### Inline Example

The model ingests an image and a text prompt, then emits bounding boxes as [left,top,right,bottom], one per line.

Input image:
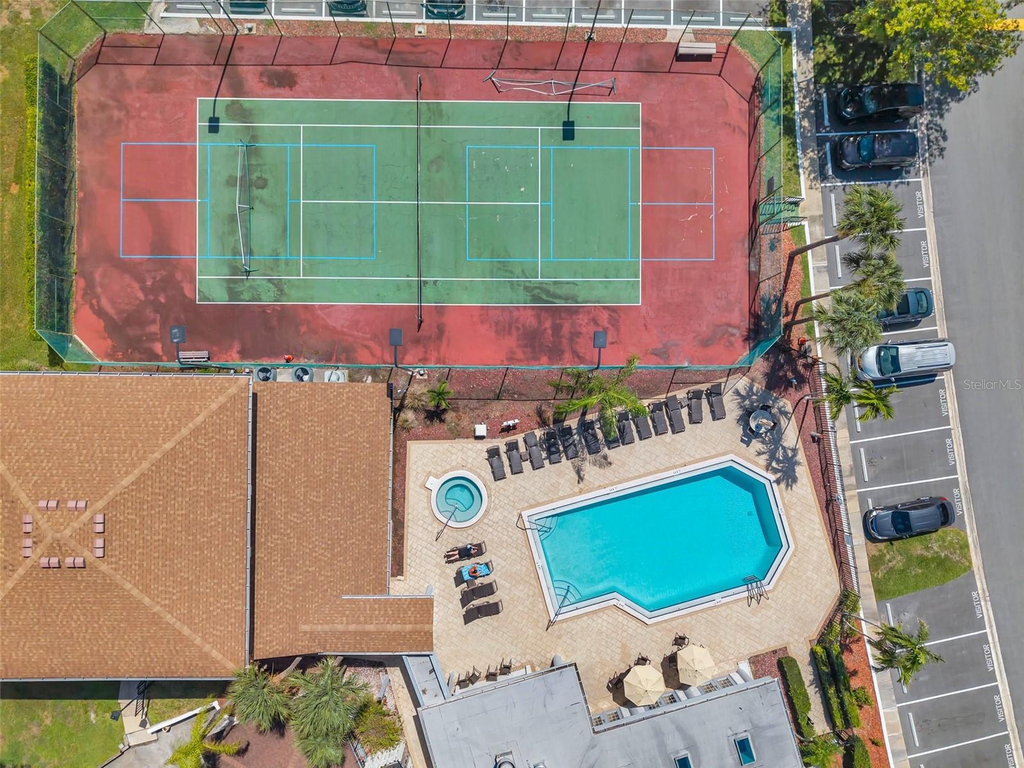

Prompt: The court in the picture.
[75,33,760,366]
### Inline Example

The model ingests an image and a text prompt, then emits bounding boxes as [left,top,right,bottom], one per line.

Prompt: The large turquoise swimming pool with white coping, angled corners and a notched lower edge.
[517,455,794,628]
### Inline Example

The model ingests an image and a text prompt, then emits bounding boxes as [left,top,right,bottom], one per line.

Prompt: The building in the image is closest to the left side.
[0,371,254,681]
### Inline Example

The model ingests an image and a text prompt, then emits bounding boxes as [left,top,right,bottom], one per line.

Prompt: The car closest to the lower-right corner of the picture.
[858,497,954,547]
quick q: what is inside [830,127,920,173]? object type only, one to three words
car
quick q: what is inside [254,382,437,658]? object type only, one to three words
building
